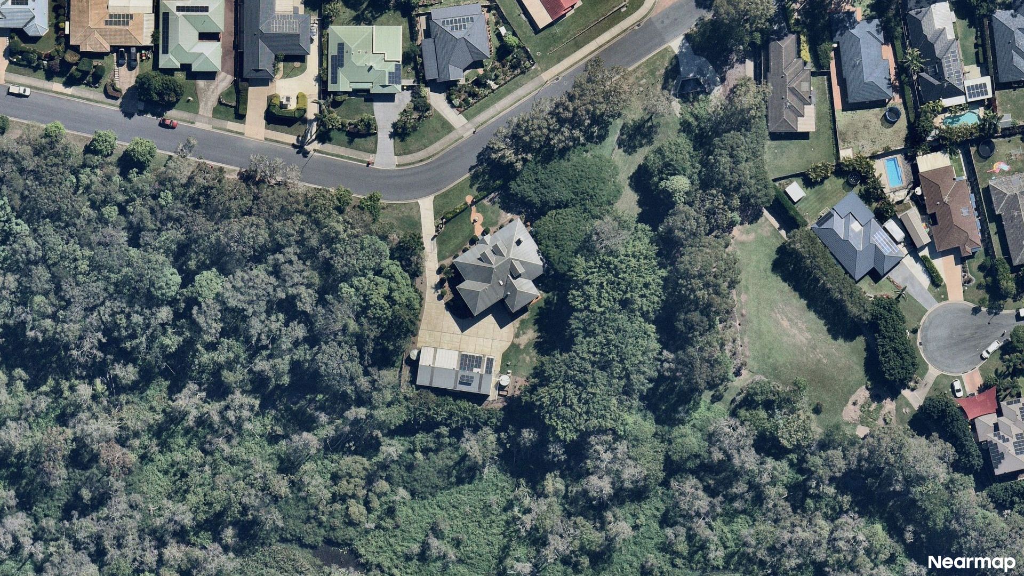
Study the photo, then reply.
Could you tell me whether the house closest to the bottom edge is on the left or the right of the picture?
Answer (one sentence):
You can find the house closest to the bottom edge on the right side of the picture.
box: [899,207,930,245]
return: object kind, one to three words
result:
shed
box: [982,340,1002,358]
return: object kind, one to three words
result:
car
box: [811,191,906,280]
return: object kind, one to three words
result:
house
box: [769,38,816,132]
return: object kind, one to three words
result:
house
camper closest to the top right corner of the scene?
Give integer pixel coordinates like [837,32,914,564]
[884,220,904,243]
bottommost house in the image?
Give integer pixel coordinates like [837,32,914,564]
[974,397,1024,475]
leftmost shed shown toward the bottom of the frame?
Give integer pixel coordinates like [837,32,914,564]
[417,345,496,396]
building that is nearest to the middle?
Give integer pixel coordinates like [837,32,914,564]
[453,219,542,316]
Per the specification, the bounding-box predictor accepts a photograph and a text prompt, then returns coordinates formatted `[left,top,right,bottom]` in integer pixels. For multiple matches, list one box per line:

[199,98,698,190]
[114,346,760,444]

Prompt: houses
[974,397,1024,475]
[989,172,1024,263]
[243,0,310,78]
[0,0,48,36]
[520,0,582,29]
[836,18,896,102]
[917,151,984,257]
[453,219,542,316]
[992,12,1024,96]
[906,1,994,107]
[69,0,154,51]
[769,38,816,132]
[328,25,402,93]
[421,3,490,84]
[159,0,224,71]
[811,191,906,280]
